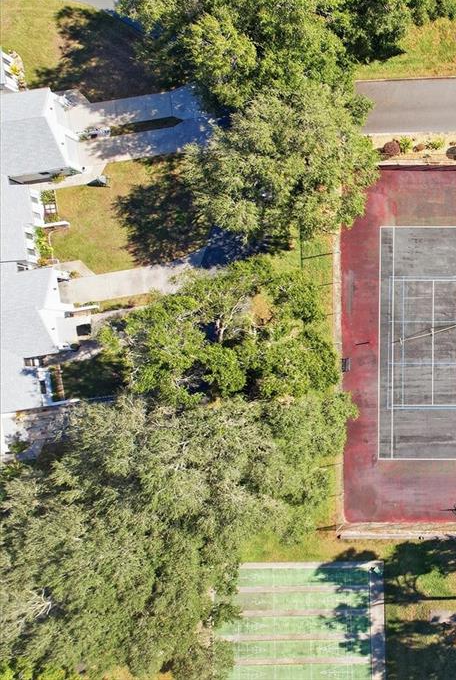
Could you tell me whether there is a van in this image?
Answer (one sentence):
No, no van can be seen from above.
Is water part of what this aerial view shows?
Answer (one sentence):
No, there's no water in this view.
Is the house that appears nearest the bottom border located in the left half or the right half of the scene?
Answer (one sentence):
It is on the left.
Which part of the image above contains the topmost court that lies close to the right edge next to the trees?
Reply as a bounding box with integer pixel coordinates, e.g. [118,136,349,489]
[379,226,456,460]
